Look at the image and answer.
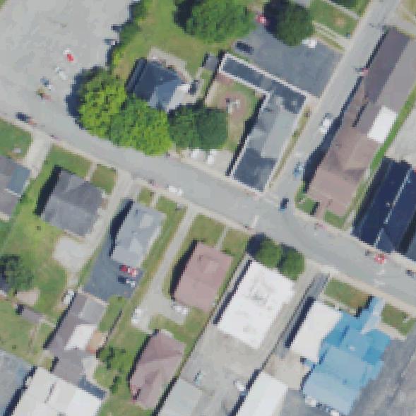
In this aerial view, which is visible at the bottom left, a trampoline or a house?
house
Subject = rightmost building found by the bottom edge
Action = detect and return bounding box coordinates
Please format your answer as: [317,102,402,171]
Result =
[288,296,390,414]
